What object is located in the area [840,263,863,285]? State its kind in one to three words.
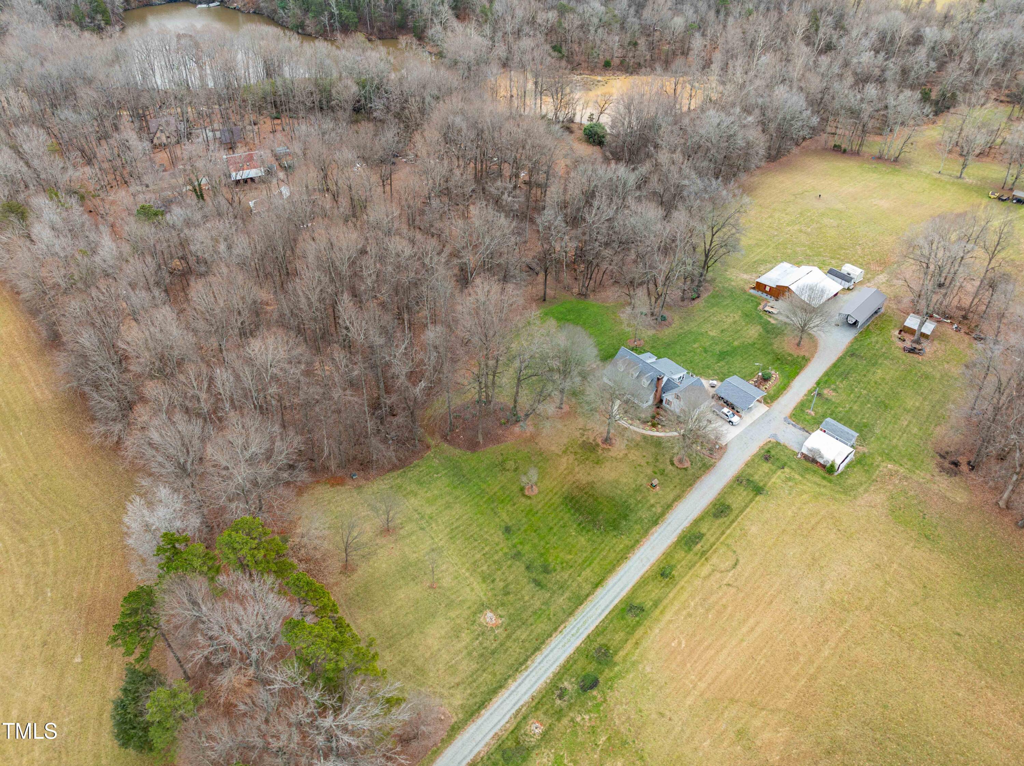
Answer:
vehicle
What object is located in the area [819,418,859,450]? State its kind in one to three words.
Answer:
shed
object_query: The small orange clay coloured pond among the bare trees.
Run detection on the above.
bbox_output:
[490,72,721,132]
